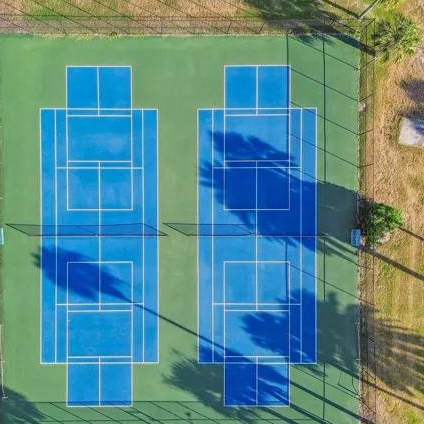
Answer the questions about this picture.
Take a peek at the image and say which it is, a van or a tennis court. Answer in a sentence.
There is a tennis court in the scene.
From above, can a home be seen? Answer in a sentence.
No, this view has no home in it.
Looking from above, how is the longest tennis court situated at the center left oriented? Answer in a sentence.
Seen from above, the longest tennis court situated at the center left lies from top to bottom.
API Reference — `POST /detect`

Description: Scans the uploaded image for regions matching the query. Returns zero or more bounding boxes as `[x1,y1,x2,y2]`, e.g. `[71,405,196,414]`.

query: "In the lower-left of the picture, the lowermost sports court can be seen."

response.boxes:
[66,262,132,407]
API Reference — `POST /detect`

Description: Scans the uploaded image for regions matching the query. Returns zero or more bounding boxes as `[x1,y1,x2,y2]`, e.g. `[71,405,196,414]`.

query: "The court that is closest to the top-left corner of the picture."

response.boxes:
[66,66,132,211]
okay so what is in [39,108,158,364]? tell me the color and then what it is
blue tennis court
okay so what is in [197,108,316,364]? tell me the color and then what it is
blue tennis court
